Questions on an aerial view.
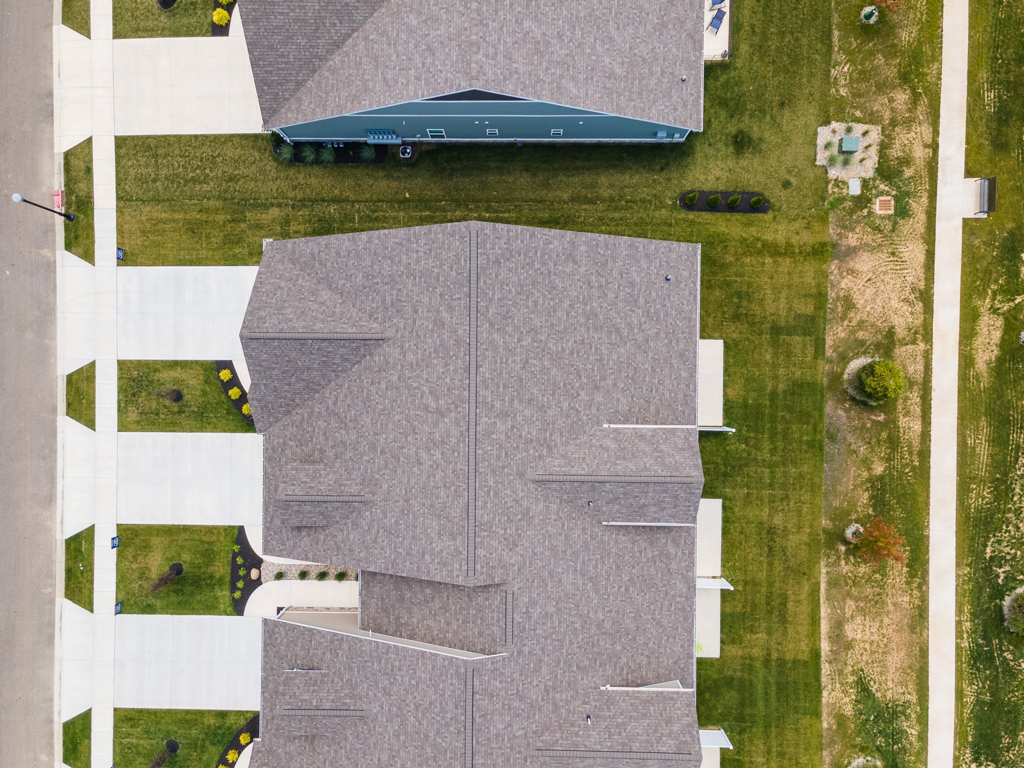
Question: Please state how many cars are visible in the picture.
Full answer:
The picture shows no cars.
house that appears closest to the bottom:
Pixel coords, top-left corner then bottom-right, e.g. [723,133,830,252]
[239,221,704,768]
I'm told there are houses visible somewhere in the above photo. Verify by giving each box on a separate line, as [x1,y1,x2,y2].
[239,0,705,150]
[239,221,704,768]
